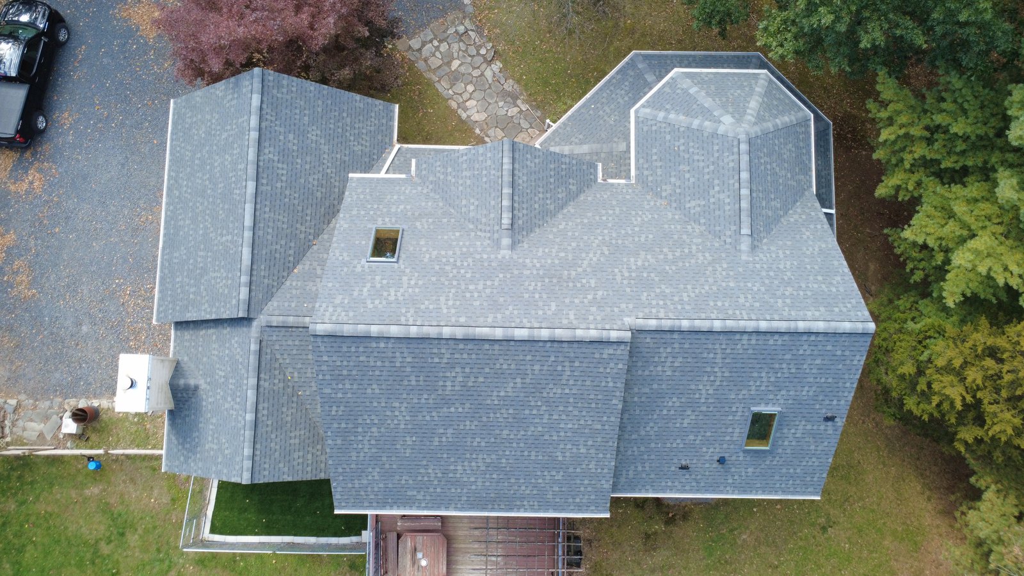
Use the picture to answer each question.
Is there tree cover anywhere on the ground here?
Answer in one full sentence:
Yes, there is tree cover in the image.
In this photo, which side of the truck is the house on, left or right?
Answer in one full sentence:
Relative to the truck, the house is on the right.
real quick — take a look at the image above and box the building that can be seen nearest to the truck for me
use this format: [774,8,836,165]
[113,48,876,520]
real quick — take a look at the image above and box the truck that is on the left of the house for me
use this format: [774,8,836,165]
[0,0,71,155]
